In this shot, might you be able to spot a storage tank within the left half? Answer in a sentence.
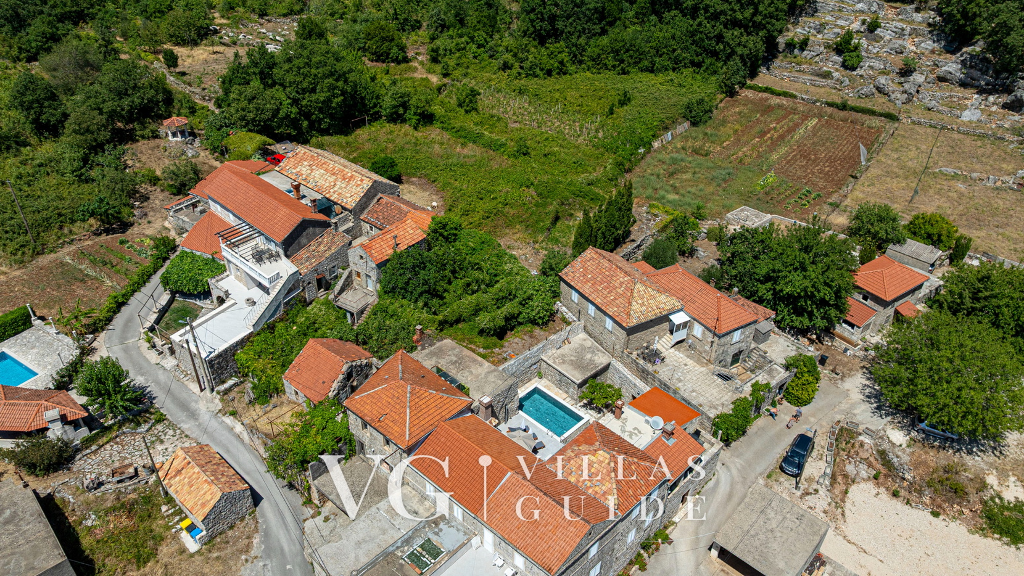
No, looking within the left half, there is no storage tank.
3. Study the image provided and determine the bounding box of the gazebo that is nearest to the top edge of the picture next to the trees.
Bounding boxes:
[156,116,190,144]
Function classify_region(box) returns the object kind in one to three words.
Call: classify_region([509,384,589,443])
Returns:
swimming pool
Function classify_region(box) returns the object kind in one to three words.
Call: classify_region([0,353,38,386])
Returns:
swimming pool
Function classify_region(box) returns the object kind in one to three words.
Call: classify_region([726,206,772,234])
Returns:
storage tank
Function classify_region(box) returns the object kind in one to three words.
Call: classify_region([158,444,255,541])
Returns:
barn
